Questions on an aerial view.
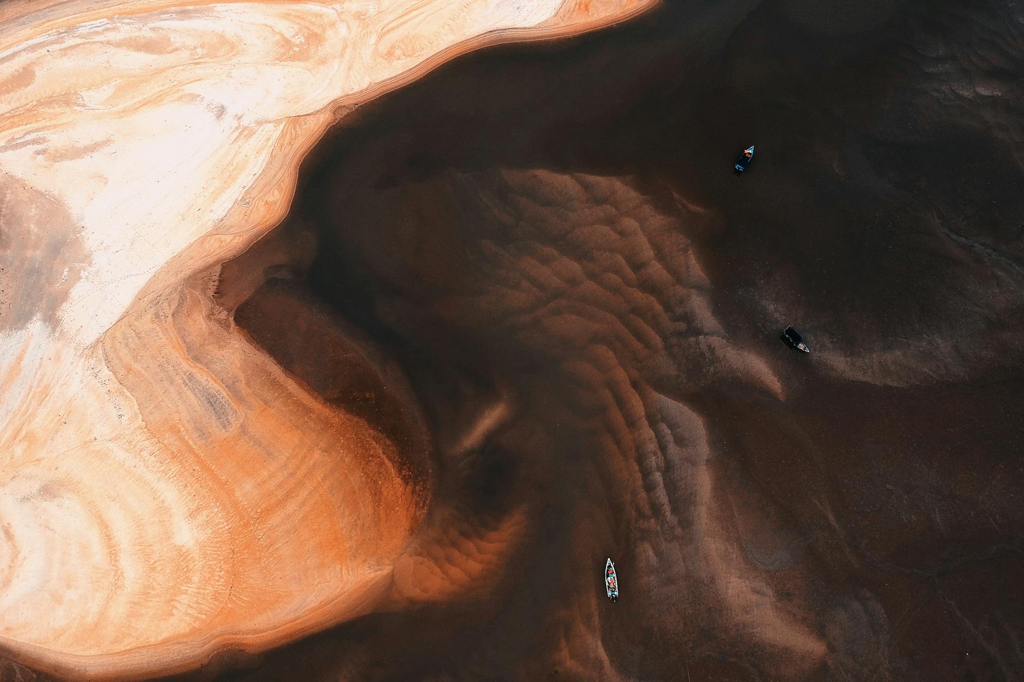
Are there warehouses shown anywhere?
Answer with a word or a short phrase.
No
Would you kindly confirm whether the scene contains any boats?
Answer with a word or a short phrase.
Yes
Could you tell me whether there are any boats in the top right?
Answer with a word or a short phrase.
Yes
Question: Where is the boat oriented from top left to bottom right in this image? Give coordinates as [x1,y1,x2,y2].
[784,325,811,352]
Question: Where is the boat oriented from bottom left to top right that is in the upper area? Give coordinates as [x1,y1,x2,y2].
[735,144,755,172]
